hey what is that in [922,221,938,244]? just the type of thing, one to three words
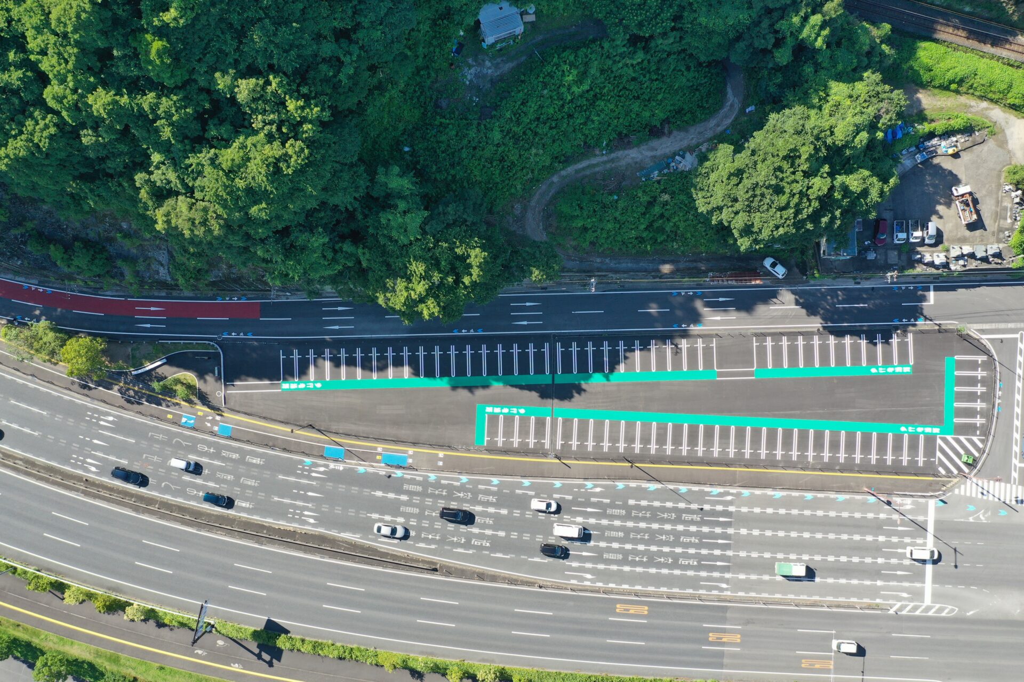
vehicle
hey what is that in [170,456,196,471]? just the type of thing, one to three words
car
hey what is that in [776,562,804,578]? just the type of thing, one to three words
vehicle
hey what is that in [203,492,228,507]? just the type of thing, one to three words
car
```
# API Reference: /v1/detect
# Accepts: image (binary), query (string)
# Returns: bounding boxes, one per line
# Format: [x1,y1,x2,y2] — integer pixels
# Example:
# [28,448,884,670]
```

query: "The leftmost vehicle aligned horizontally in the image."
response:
[110,466,143,483]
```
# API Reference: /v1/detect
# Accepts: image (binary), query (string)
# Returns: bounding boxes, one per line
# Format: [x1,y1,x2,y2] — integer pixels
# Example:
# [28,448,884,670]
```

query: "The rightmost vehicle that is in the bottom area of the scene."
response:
[906,547,936,561]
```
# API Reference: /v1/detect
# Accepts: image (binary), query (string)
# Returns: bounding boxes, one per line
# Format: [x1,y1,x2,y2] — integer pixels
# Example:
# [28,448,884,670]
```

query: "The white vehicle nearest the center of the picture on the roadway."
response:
[531,498,557,513]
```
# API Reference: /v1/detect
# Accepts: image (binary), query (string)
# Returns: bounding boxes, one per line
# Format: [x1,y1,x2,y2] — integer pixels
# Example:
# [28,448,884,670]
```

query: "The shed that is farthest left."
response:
[479,1,524,42]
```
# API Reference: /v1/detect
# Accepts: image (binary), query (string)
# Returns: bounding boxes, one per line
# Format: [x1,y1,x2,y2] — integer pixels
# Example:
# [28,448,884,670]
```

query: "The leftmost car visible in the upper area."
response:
[762,256,787,280]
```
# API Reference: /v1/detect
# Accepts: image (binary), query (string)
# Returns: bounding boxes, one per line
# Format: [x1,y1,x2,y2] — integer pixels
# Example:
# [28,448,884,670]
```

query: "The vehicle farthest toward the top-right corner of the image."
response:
[950,185,978,224]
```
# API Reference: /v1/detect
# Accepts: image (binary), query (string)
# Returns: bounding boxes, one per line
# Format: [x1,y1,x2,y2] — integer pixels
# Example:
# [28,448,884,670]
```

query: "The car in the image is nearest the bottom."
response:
[832,639,856,653]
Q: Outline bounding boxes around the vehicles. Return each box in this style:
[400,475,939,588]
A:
[374,522,405,538]
[776,562,804,578]
[922,221,938,244]
[907,220,923,243]
[906,547,936,561]
[762,256,787,280]
[531,498,557,513]
[541,543,565,558]
[110,466,143,483]
[554,523,582,539]
[892,222,907,244]
[440,507,470,524]
[170,456,196,471]
[832,639,856,653]
[203,492,228,507]
[950,185,978,224]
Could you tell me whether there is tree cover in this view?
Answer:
Yes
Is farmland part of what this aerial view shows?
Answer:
No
